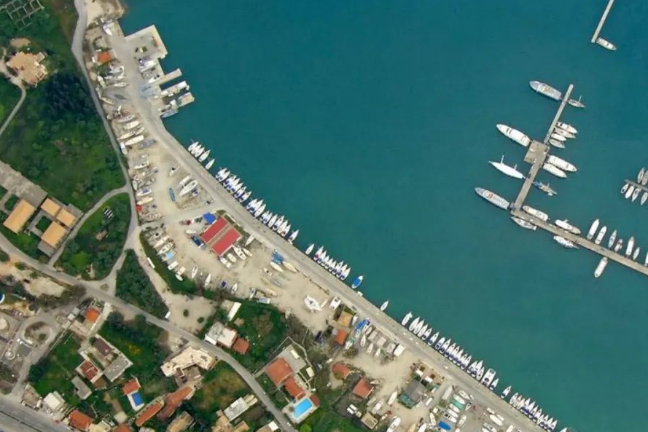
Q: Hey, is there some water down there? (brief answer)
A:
Yes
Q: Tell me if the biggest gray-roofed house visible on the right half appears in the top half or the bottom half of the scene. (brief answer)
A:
bottom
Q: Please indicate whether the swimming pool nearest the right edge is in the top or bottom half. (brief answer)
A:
bottom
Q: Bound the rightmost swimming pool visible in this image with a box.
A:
[281,392,319,424]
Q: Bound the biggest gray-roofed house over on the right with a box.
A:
[403,377,427,401]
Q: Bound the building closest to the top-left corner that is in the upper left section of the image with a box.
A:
[9,51,50,83]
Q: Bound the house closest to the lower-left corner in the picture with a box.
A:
[19,387,43,409]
